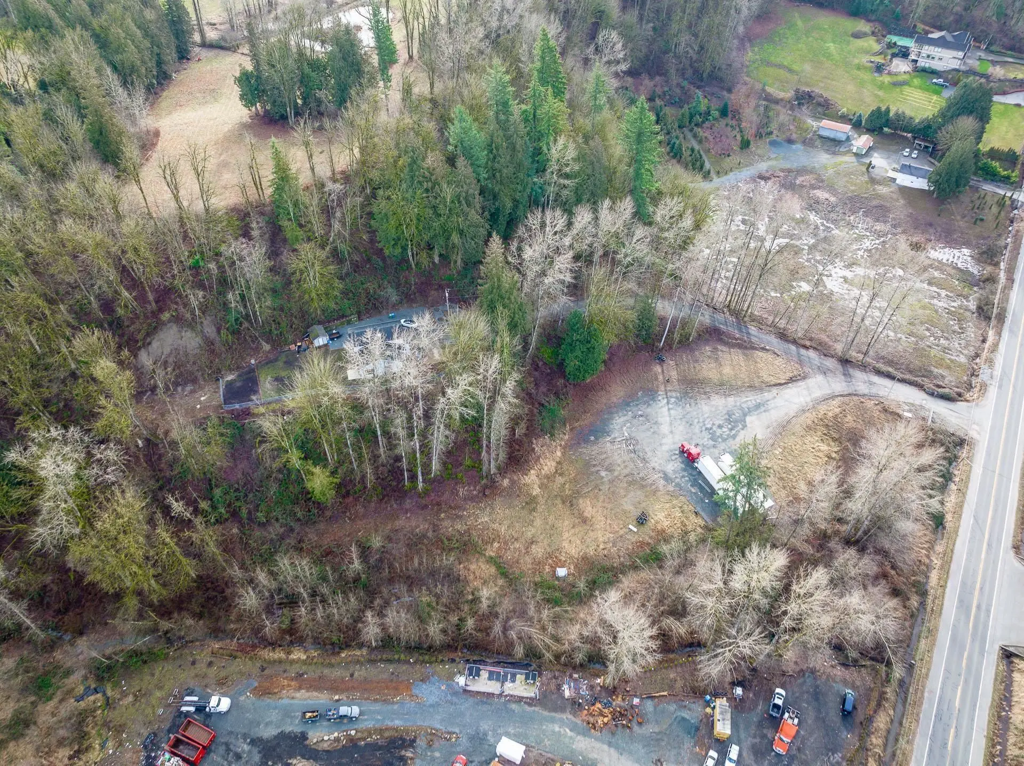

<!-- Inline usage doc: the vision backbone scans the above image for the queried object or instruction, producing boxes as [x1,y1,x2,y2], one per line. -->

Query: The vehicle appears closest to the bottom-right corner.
[840,689,856,715]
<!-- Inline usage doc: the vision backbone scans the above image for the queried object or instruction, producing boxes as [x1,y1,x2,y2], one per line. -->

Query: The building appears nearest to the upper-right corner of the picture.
[910,28,973,72]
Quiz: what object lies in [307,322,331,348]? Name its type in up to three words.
shed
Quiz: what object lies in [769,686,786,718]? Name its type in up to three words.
vehicle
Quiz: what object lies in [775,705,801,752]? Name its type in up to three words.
truck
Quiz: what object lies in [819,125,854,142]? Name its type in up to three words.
barn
